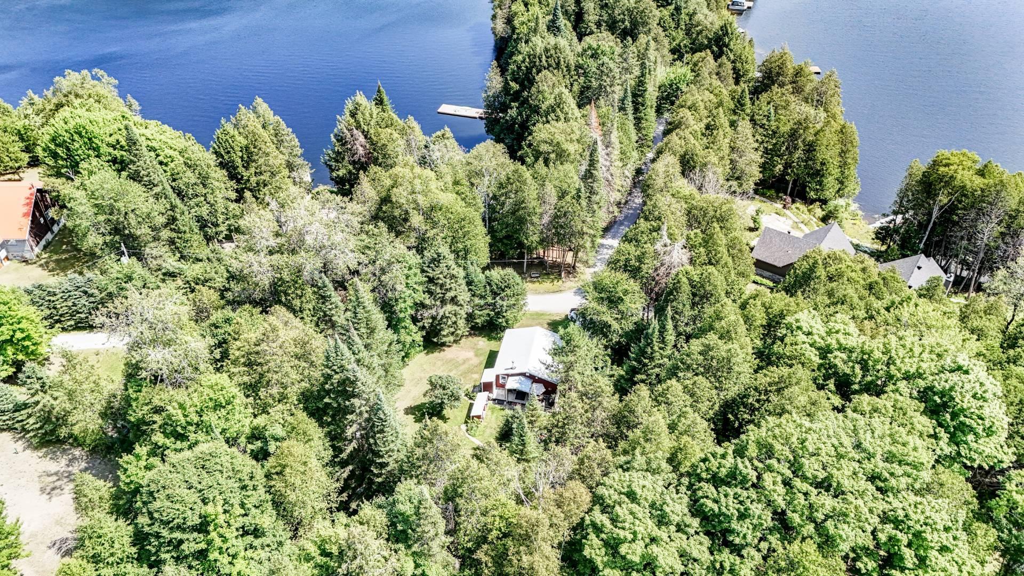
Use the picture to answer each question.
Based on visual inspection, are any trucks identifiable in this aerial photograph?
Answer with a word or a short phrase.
No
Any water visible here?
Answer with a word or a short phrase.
Yes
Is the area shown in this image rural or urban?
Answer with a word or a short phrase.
rural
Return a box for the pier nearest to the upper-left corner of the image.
[438,104,483,120]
